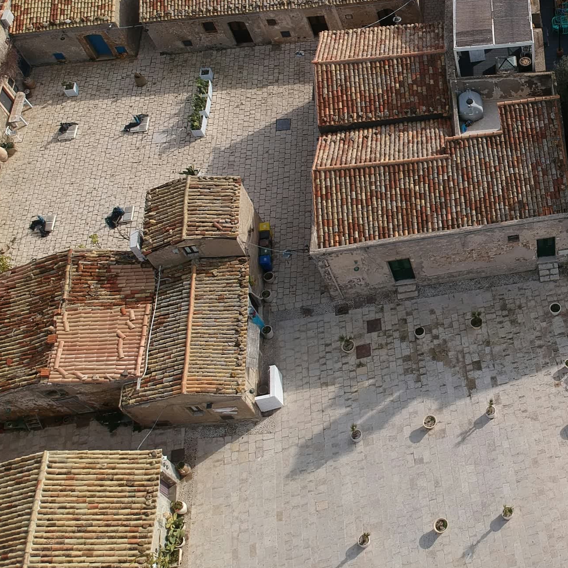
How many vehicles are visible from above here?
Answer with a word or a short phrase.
none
